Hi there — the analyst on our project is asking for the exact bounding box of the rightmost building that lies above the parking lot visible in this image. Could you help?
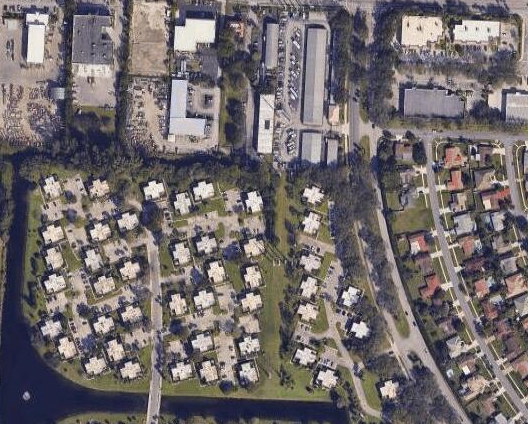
[454,21,501,42]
